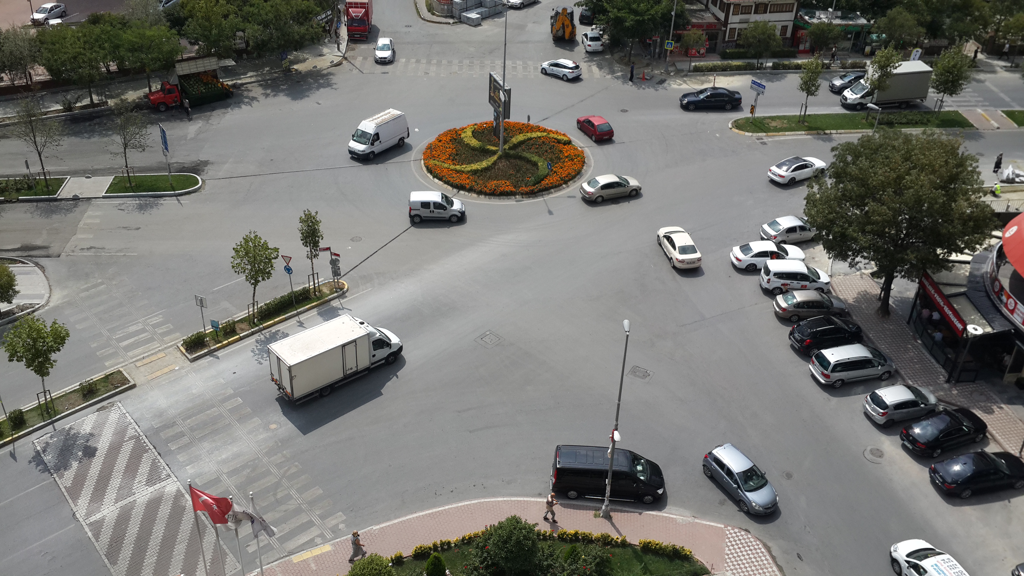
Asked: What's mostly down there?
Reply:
paved ground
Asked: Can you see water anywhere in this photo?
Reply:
No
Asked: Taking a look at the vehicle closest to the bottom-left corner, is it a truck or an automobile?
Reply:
truck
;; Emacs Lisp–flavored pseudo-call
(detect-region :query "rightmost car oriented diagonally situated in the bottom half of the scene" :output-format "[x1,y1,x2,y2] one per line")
[701,440,784,519]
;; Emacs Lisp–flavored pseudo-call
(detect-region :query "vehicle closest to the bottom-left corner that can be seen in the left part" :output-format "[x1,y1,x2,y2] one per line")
[271,307,409,405]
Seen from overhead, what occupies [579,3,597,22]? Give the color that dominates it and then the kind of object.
black car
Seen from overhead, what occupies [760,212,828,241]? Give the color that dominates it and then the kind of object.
gray car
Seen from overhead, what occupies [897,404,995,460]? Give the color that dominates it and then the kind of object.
black car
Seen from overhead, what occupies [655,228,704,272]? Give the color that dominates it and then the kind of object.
white car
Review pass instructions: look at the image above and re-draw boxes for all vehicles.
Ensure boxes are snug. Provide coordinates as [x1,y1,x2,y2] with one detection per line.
[769,154,828,185]
[348,109,410,160]
[26,0,71,23]
[342,0,383,36]
[701,440,784,519]
[577,173,644,204]
[760,212,828,241]
[370,37,396,62]
[788,312,866,356]
[579,3,597,22]
[551,2,576,37]
[655,228,704,272]
[926,445,1024,500]
[859,379,941,428]
[404,190,466,223]
[728,237,806,272]
[885,536,999,576]
[581,32,606,54]
[575,114,616,142]
[678,87,742,110]
[271,307,409,405]
[768,285,852,322]
[830,71,862,91]
[506,0,531,8]
[754,254,832,293]
[536,57,585,81]
[838,65,927,110]
[141,56,230,110]
[897,404,995,460]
